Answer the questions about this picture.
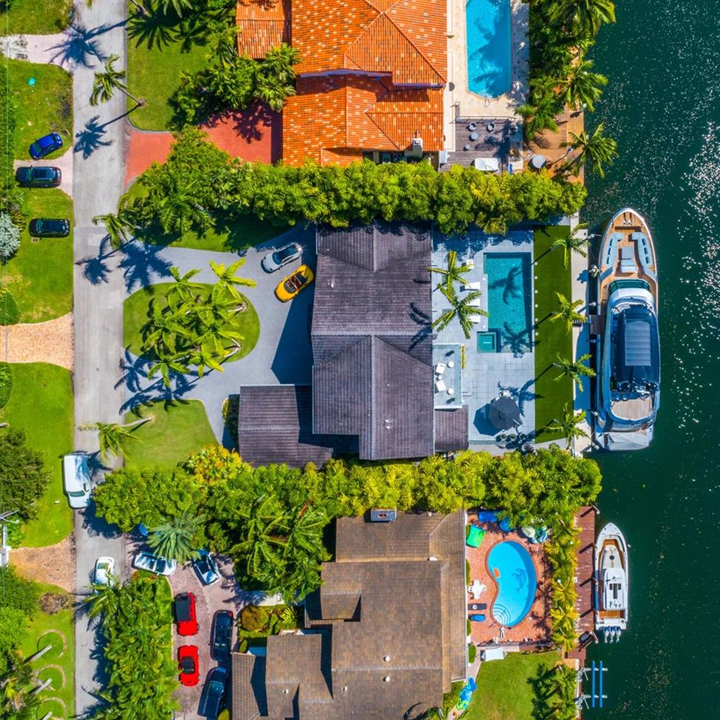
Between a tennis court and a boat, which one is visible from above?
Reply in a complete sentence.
Visible in the photo is a boat.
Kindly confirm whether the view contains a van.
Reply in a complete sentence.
Yes, the picture does show a van.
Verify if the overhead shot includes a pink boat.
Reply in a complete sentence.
No, the frame has no pink boat in it.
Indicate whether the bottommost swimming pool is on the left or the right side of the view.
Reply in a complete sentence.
You can find the bottommost swimming pool on the right side of the picture.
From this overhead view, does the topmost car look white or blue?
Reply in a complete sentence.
The topmost car looks blue in the image.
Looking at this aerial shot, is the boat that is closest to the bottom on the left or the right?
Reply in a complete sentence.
The boat that is closest to the bottom sits on the right side.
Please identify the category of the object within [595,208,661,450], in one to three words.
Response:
boat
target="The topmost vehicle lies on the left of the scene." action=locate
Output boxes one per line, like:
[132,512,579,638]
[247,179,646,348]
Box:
[27,131,67,161]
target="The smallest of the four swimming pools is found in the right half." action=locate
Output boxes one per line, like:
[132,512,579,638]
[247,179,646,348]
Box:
[477,332,497,353]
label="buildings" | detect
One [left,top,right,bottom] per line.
[237,0,453,174]
[239,218,468,467]
[232,501,466,720]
